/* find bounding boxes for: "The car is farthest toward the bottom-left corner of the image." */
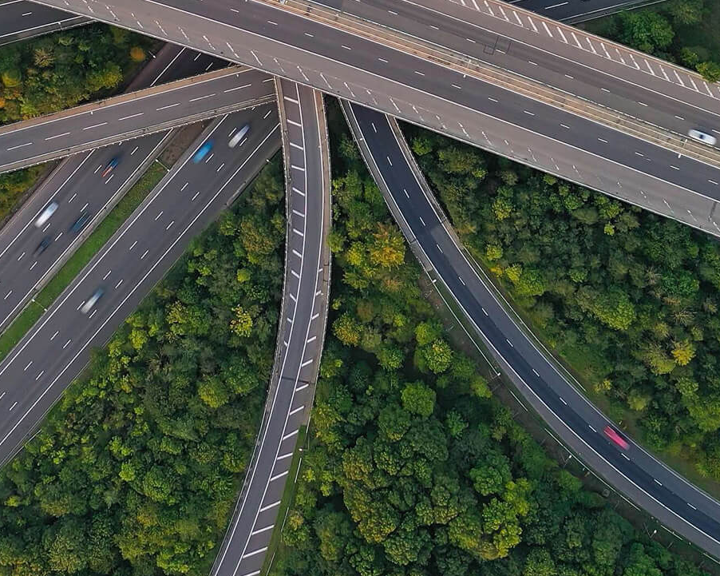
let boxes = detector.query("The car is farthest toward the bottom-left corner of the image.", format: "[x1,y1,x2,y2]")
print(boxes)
[82,289,103,311]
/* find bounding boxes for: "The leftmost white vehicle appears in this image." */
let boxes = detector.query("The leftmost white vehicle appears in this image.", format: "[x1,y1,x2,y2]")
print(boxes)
[33,203,58,228]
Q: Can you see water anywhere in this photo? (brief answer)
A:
No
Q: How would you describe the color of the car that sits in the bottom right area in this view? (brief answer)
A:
red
